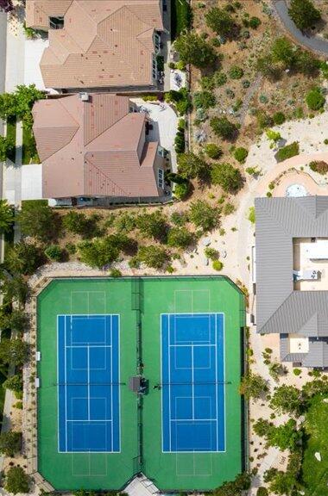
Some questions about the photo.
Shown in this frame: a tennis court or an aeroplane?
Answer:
tennis court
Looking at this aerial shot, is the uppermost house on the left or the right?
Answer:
left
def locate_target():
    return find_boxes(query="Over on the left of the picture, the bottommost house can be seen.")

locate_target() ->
[32,91,163,198]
